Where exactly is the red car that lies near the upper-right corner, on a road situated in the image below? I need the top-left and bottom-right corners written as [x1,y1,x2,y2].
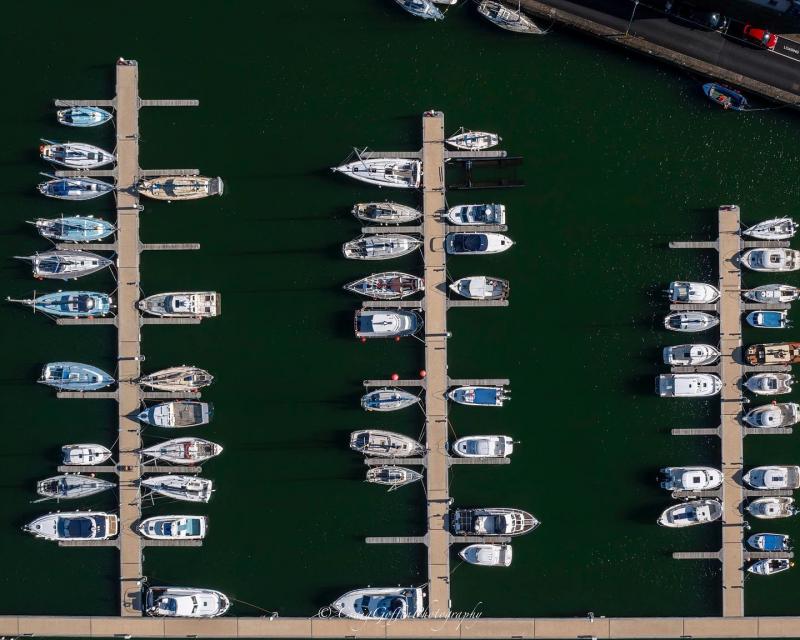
[741,26,779,52]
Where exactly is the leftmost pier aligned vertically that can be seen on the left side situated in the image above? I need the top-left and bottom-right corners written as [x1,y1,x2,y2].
[55,59,203,616]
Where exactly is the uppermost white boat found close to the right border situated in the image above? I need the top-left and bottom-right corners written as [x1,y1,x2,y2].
[741,219,798,243]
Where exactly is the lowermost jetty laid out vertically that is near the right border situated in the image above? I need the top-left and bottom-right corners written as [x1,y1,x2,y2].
[670,206,793,617]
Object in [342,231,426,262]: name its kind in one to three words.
boat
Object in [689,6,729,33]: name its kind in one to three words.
car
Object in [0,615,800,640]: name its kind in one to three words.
pier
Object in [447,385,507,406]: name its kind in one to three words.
boat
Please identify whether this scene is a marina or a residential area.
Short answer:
marina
